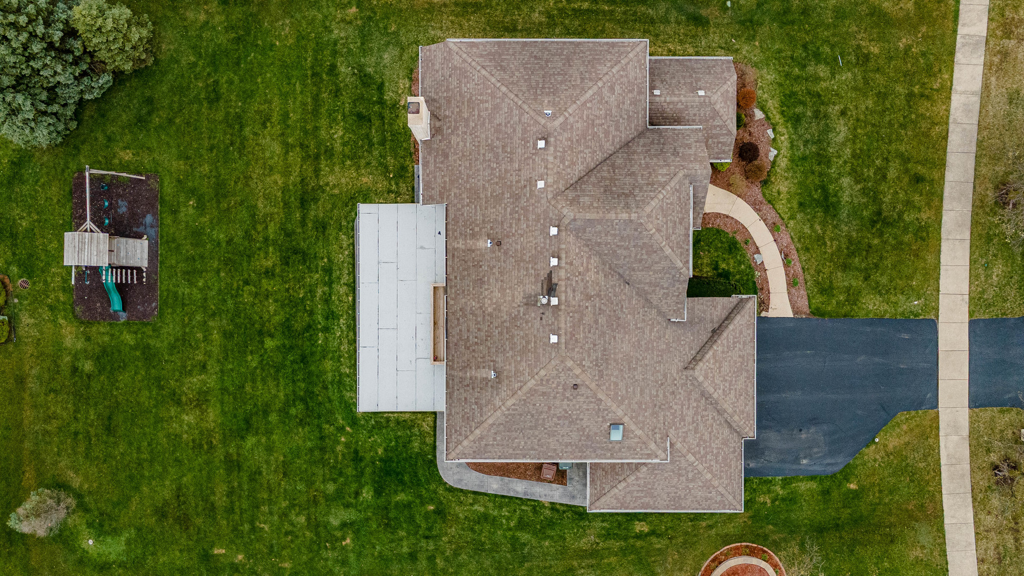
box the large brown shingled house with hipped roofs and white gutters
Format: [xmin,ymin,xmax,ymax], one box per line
[407,37,759,514]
